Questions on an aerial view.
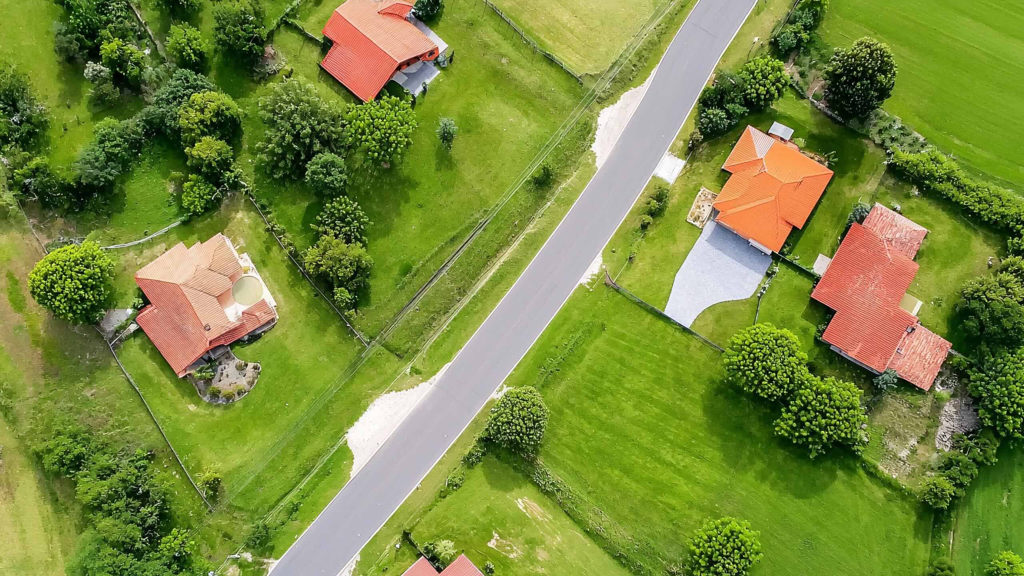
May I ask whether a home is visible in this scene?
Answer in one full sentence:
Yes, I can see a home in this picture.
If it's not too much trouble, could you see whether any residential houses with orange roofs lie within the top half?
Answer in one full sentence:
Yes, a residential house with an orange roof appears within the top half.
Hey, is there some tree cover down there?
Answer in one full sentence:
Yes, there is tree cover in the image.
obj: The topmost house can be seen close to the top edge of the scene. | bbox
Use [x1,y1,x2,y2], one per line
[321,0,436,103]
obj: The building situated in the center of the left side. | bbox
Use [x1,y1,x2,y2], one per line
[134,232,276,377]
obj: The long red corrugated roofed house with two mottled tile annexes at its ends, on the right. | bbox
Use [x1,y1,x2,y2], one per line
[807,201,953,391]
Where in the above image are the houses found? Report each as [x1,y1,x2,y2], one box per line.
[321,0,436,103]
[400,551,486,576]
[134,232,276,377]
[807,201,953,391]
[712,125,834,254]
